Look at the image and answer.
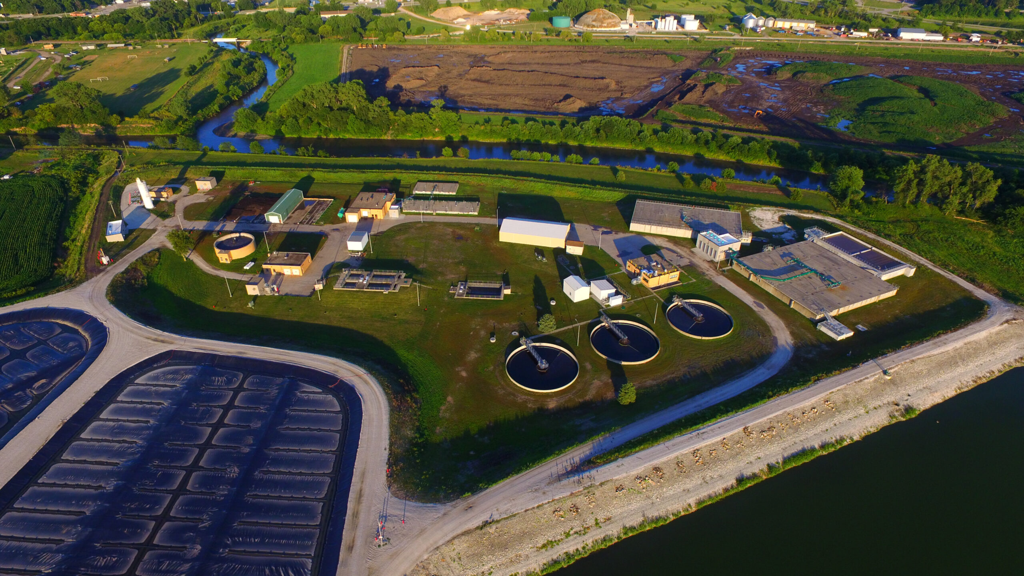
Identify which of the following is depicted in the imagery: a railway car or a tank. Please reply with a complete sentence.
The image shows a tank.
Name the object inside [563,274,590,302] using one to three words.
shed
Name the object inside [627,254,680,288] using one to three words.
building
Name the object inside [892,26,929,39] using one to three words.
building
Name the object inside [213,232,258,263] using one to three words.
storage tank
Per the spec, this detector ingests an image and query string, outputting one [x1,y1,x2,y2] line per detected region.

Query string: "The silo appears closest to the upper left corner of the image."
[133,177,155,209]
